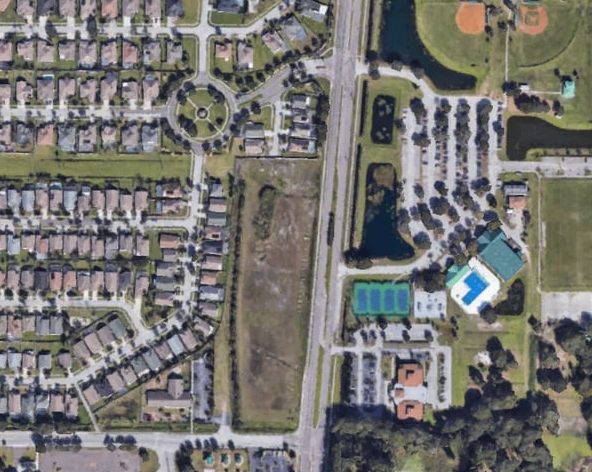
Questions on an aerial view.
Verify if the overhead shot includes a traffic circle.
Yes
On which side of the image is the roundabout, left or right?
left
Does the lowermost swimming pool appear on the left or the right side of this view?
right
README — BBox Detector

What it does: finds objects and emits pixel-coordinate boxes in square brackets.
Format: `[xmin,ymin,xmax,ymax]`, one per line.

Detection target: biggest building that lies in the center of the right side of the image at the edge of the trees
[480,228,526,283]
